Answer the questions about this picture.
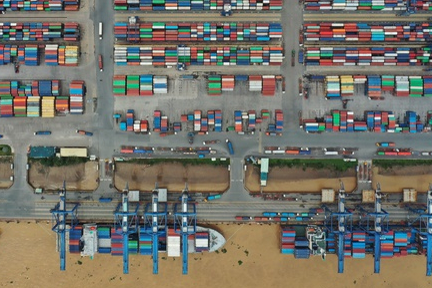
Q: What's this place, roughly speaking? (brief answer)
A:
port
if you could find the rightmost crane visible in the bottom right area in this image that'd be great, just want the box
[400,182,432,275]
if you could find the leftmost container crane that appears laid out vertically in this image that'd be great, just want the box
[52,179,83,271]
